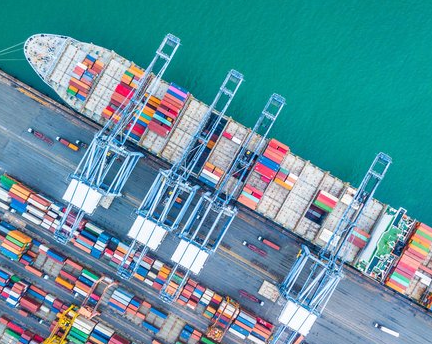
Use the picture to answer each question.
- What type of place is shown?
port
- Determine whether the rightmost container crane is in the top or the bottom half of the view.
bottom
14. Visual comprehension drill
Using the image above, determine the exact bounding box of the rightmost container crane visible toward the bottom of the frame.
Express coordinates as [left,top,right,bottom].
[275,155,395,344]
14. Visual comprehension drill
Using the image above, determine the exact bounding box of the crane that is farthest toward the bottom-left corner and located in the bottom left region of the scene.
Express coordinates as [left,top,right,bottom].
[42,299,87,344]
